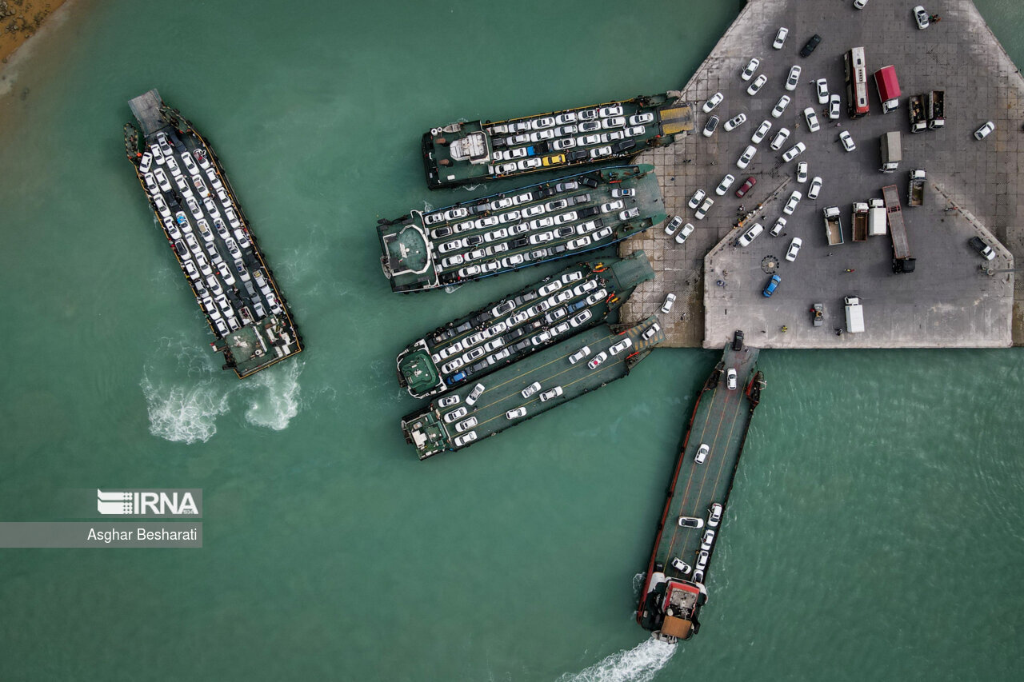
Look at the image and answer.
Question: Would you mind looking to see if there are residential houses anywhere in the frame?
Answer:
No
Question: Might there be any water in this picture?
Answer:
Yes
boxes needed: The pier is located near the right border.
[618,0,1024,348]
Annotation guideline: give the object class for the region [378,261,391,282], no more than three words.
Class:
boat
